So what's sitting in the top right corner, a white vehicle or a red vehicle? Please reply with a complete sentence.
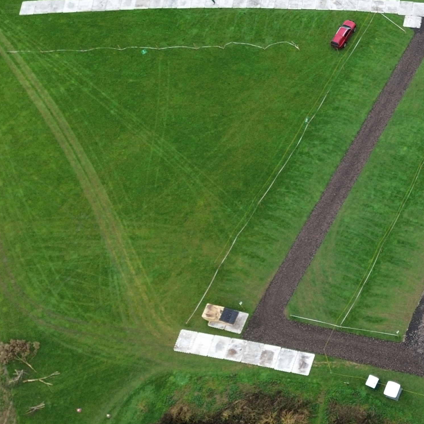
You can see a red vehicle in the top right corner.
